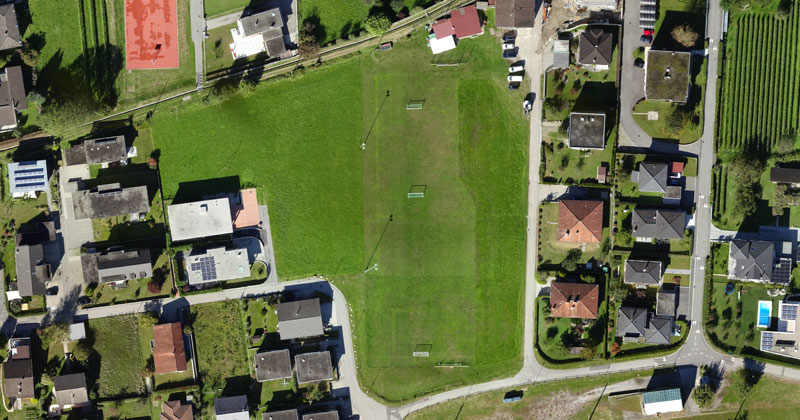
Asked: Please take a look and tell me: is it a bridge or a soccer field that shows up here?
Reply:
soccer field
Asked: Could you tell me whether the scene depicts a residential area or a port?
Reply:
residential area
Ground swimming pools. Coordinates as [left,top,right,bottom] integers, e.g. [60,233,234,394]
[758,301,773,329]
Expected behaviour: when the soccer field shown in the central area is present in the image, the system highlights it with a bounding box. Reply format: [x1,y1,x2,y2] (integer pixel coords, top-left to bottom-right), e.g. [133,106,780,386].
[331,38,529,405]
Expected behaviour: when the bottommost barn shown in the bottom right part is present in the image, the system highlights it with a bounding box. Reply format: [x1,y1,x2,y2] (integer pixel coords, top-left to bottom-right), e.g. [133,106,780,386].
[640,386,683,415]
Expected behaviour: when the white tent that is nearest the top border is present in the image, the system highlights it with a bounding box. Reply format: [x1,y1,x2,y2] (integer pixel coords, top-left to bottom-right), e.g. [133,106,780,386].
[429,36,455,55]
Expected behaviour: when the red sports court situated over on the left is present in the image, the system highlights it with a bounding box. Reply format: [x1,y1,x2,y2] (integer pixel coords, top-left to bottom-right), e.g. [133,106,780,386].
[125,0,179,69]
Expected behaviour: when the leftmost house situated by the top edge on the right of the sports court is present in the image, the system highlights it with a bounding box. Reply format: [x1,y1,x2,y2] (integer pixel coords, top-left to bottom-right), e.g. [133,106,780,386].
[230,9,286,60]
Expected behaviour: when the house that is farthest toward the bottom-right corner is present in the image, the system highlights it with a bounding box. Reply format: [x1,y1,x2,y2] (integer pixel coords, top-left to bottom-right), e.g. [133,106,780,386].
[759,300,800,358]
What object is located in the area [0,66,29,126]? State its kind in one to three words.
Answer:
house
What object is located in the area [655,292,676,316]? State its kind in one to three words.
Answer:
building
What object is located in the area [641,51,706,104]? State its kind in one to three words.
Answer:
building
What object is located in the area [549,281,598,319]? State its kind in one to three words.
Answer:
house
